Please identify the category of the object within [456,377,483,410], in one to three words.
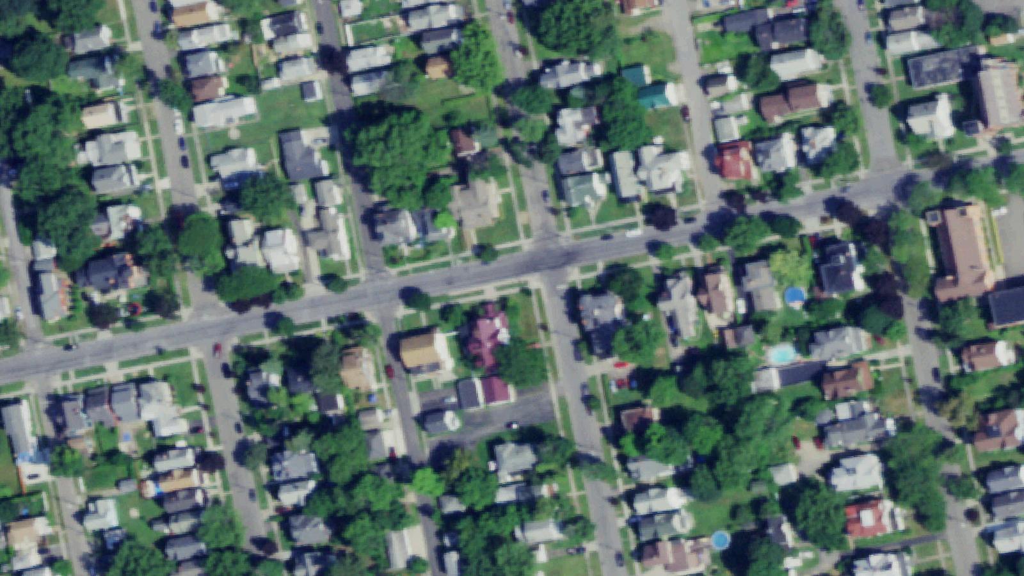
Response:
building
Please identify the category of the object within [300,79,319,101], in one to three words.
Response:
shed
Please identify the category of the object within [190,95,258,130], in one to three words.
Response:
house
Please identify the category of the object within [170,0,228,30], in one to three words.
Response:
house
